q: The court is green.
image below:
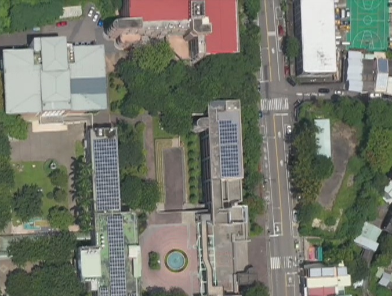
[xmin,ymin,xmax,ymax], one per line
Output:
[346,0,389,50]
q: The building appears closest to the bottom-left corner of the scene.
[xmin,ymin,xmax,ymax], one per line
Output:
[74,211,141,296]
